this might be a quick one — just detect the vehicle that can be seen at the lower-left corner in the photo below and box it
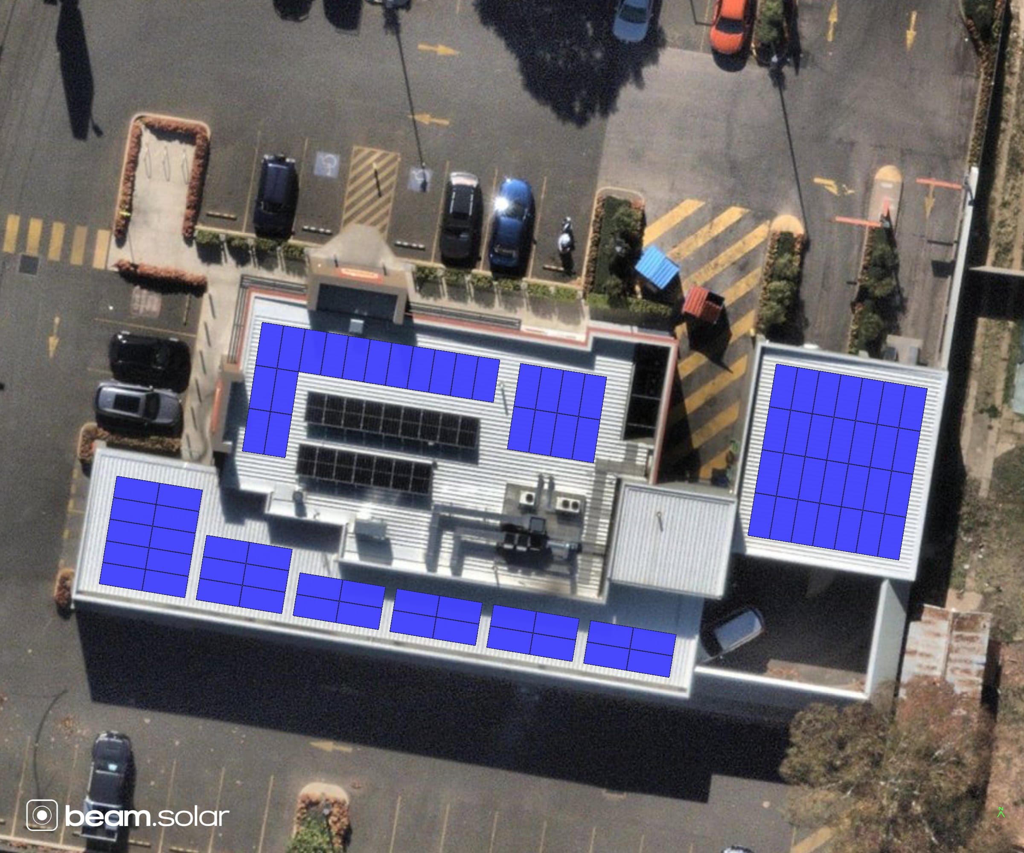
[81,728,129,843]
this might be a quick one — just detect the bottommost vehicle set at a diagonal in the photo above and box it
[699,603,771,665]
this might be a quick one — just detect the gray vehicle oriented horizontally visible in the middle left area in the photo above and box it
[94,377,184,424]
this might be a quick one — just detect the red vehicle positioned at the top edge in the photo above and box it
[710,0,752,57]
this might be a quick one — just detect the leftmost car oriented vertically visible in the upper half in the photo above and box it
[254,151,296,240]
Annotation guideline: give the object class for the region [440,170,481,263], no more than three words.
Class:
car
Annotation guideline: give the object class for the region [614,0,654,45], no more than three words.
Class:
car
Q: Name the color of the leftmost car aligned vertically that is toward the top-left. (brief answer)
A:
black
